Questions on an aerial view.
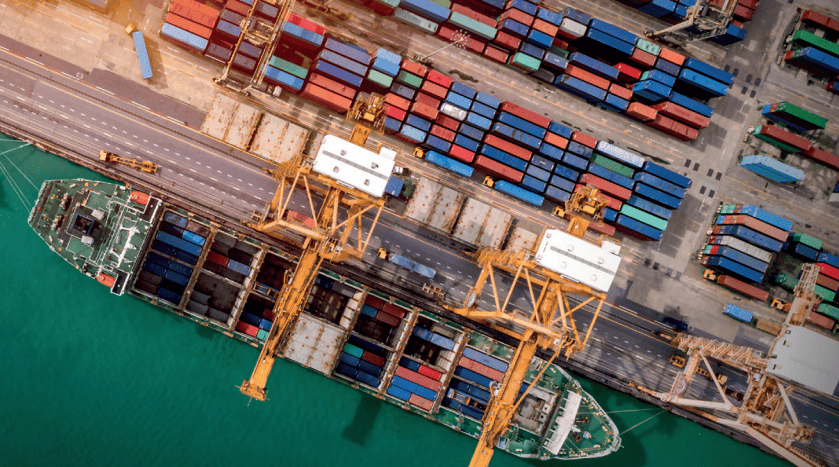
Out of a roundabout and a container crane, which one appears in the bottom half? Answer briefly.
container crane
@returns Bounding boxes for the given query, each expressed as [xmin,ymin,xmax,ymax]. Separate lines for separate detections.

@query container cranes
[644,0,741,50]
[238,89,398,406]
[640,261,839,467]
[210,0,290,97]
[438,180,620,467]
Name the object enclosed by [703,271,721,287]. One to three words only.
vehicle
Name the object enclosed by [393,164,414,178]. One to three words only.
vehicle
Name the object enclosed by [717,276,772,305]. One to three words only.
shipping container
